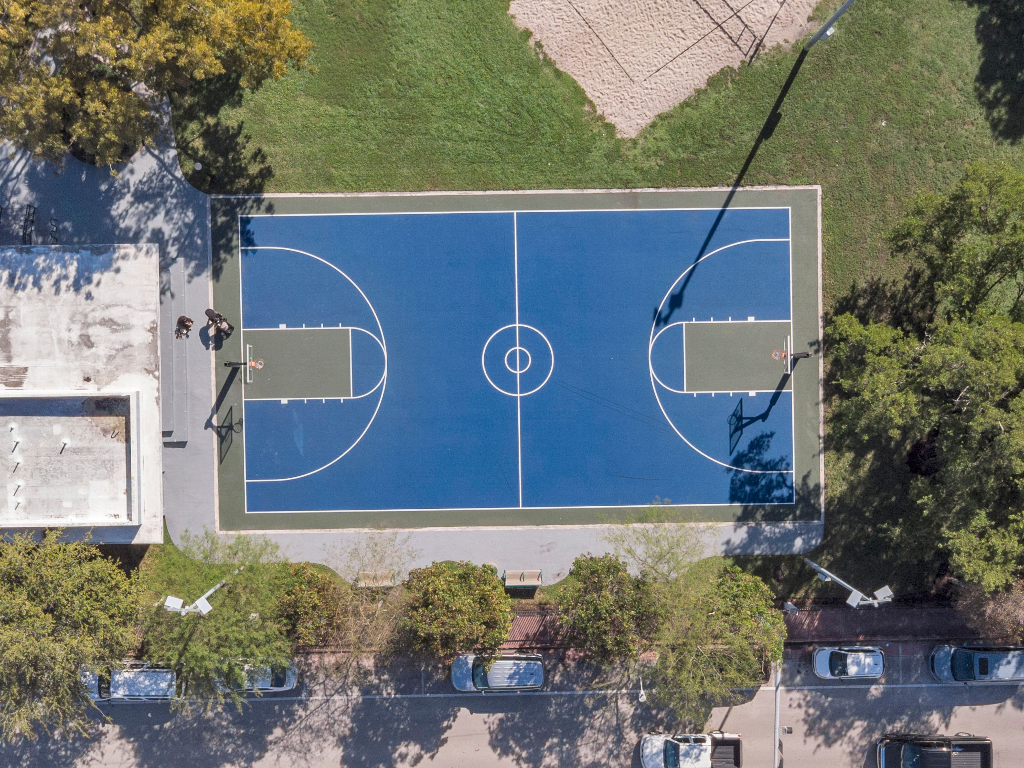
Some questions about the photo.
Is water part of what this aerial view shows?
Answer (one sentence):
No, no water is visible.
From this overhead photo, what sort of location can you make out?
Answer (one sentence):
What you see here is a sports ground.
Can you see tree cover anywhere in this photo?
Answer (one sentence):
Yes, there's tree cover in this view.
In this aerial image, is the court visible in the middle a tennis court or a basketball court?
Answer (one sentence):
Specifically, the court visible in the middle is a basketball court.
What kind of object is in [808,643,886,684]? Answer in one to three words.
car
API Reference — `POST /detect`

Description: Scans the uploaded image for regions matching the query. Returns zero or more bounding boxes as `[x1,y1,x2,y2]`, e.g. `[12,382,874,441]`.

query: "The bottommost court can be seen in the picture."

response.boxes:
[206,185,825,534]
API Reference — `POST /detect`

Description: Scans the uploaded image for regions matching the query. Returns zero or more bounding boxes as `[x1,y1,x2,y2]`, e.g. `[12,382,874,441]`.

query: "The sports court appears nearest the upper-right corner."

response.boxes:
[503,0,817,137]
